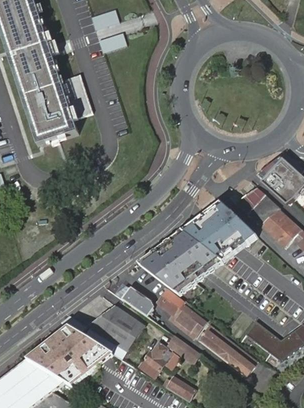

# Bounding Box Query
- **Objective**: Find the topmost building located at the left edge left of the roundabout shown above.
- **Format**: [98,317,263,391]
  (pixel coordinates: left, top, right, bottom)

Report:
[0,0,80,148]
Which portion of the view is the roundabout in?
top right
